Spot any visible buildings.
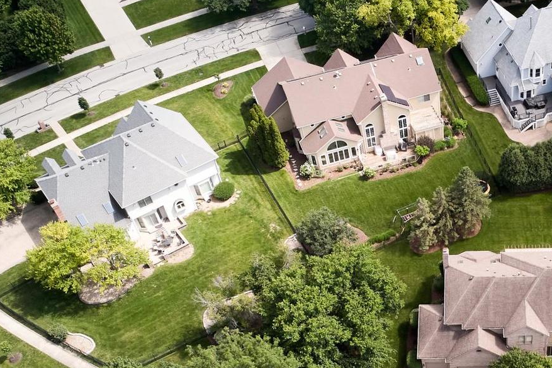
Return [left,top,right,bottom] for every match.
[31,100,223,261]
[458,0,552,134]
[415,238,552,368]
[252,32,447,169]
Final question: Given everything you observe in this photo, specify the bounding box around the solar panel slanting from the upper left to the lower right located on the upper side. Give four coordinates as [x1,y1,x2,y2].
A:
[380,84,407,106]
